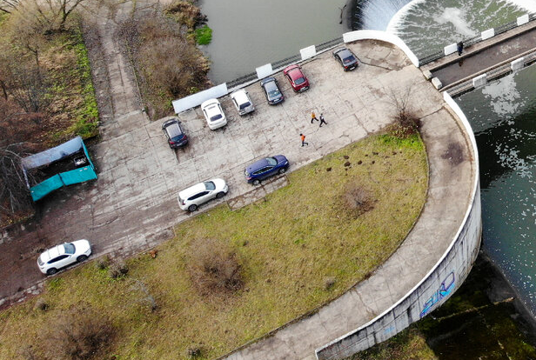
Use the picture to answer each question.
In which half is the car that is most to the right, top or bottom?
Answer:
top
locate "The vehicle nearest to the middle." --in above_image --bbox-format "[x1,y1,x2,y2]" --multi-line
[239,151,292,183]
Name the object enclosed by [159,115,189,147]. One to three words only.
car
